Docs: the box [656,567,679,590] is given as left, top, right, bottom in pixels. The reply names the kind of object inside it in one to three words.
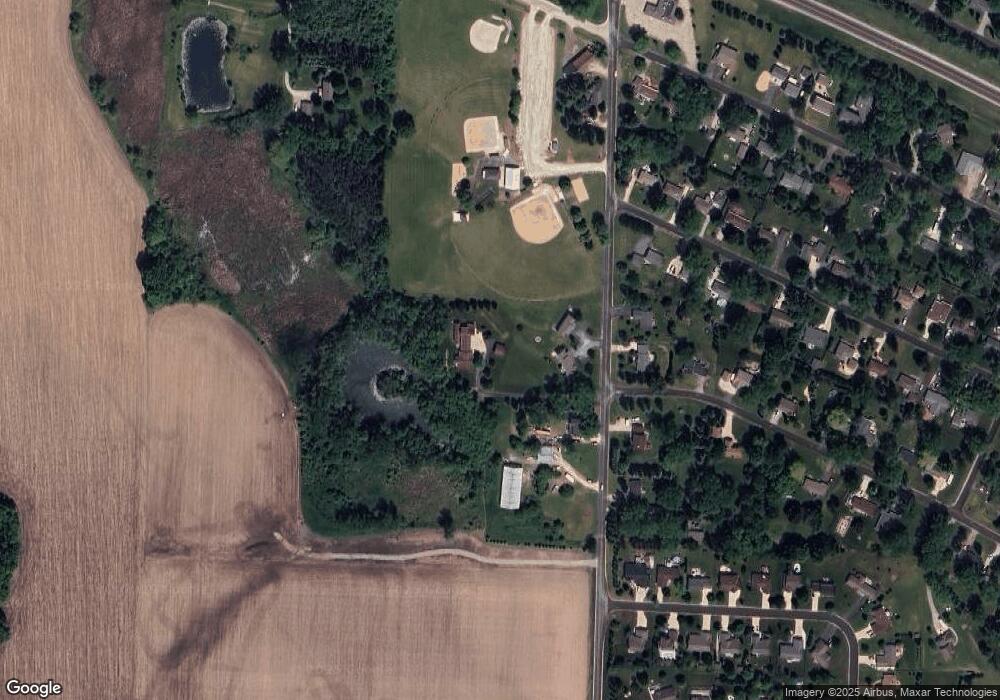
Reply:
house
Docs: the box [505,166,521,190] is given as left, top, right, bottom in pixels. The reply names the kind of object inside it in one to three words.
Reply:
building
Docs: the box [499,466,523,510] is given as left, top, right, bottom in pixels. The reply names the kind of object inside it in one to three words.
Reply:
barn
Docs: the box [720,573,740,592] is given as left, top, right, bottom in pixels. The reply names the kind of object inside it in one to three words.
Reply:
house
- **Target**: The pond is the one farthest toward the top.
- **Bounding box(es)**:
[181,17,232,112]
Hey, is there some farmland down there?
Yes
